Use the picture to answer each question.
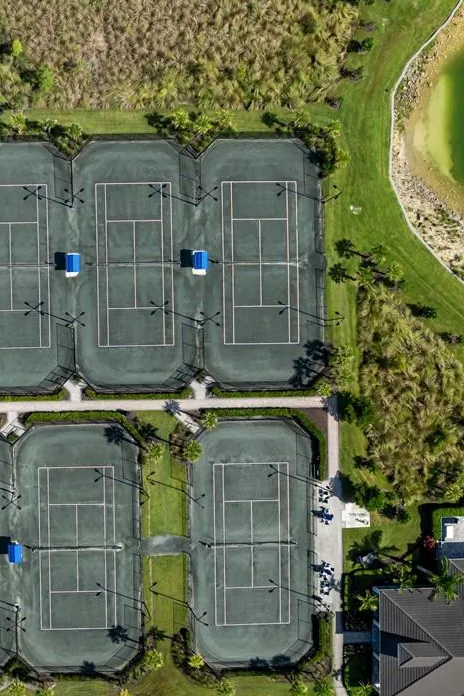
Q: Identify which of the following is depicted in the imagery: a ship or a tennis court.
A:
tennis court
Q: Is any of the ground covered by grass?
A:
Yes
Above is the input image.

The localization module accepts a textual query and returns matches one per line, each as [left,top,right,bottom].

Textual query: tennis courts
[188,418,314,667]
[196,138,327,389]
[72,139,199,392]
[13,423,144,675]
[0,142,75,393]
